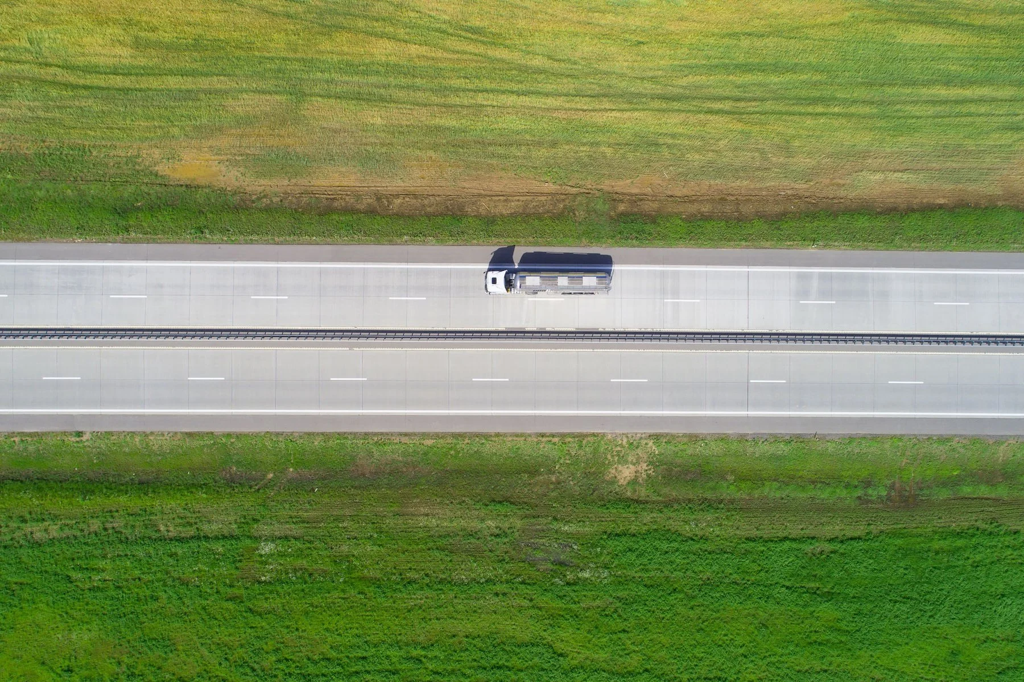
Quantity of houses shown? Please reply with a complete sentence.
The photo contains no houses.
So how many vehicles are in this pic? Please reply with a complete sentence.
I count just 1 vehicle.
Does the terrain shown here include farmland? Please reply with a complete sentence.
Yes, the picture does contain farmland.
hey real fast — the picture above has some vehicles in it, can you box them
[484,268,612,296]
